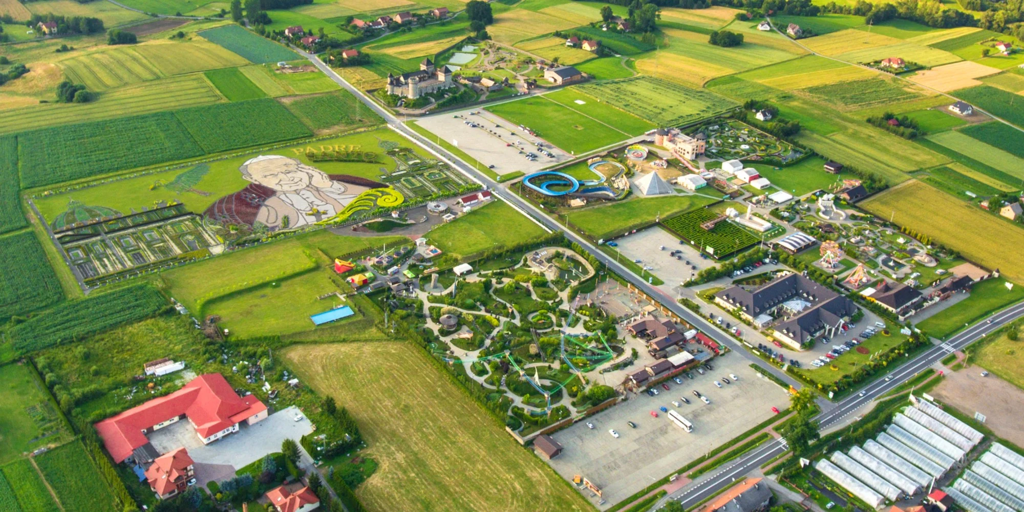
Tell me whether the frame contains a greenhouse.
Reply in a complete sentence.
Yes, a greenhouse is visible in the scene.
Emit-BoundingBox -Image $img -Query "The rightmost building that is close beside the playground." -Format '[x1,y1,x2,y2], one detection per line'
[714,268,867,350]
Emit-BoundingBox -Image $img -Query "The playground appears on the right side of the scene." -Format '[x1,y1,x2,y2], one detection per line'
[577,278,684,324]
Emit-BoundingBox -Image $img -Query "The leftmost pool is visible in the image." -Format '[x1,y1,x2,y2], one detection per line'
[309,303,355,325]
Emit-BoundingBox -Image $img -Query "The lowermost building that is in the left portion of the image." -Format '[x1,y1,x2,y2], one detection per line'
[265,483,318,512]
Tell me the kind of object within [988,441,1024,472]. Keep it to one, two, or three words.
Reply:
greenhouse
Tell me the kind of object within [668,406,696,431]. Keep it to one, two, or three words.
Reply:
bus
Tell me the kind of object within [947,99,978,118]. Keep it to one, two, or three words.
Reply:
house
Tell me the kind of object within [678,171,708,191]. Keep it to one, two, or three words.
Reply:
tent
